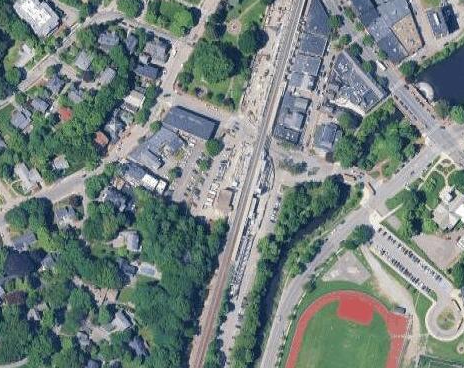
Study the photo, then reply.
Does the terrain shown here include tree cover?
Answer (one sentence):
Yes, there is tree cover in the image.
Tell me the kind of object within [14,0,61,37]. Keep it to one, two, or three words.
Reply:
building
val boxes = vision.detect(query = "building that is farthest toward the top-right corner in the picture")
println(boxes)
[428,5,451,37]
